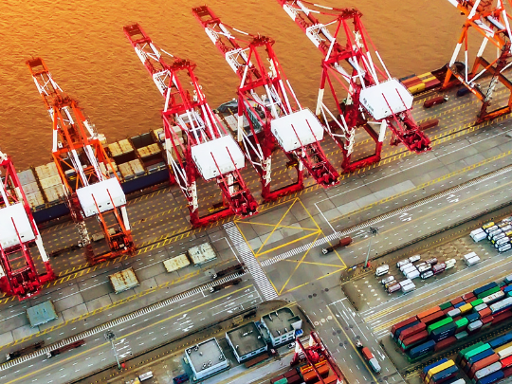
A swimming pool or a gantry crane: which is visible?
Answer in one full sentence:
There is a gantry crane in the scene.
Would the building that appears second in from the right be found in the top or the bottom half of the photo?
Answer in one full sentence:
You can find the building that appears second in from the right in the bottom half.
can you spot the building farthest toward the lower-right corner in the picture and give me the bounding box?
[262,307,302,350]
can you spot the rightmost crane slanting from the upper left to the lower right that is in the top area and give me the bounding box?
[274,0,434,173]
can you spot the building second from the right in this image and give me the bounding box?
[225,322,267,365]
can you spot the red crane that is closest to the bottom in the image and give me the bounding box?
[290,331,345,384]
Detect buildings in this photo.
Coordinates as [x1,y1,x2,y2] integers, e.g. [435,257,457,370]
[225,322,267,365]
[185,339,226,382]
[262,307,302,350]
